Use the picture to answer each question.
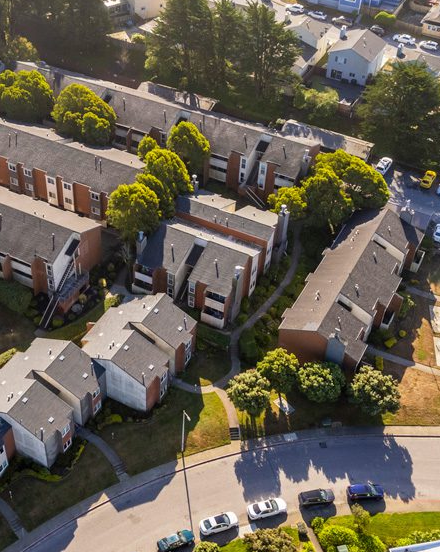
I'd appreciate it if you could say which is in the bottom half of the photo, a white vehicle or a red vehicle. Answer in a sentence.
Visible in the bottom half of the photo is a white vehicle.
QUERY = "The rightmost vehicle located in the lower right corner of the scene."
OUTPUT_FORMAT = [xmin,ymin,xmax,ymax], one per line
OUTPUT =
[344,482,386,503]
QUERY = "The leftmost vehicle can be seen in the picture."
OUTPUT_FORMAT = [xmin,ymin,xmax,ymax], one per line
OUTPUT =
[153,529,198,552]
